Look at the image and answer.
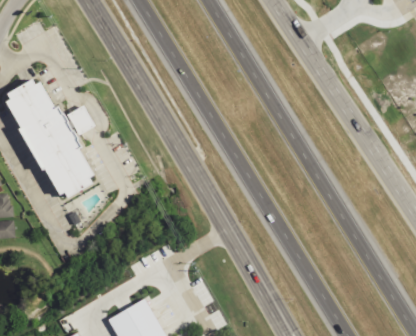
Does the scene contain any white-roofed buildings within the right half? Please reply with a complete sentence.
No, there is no white-roofed building within the right half.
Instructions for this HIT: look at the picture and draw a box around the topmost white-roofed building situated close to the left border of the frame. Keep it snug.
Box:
[6,80,98,198]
